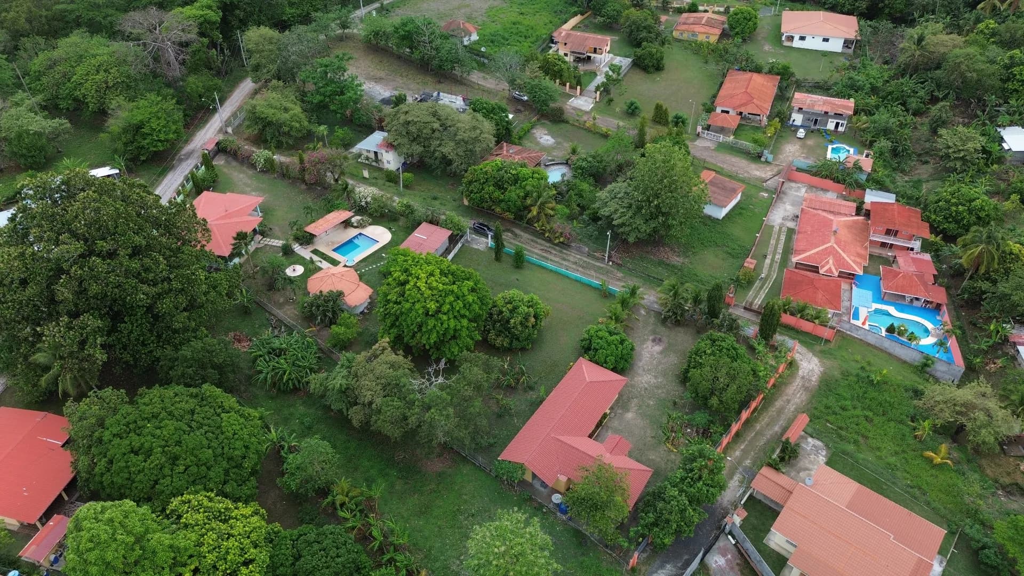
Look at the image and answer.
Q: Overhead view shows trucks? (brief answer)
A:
No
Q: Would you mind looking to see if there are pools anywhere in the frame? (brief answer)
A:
Yes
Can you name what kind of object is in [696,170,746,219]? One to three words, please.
shed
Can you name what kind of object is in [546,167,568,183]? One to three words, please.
swimming pool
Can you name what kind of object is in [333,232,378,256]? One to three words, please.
swimming pool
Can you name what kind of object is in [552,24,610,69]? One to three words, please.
house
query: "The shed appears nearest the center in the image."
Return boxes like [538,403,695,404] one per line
[400,222,453,265]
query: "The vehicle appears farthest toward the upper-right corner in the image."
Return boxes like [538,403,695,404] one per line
[795,125,808,139]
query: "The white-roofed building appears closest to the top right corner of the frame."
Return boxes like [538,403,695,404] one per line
[996,125,1024,161]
